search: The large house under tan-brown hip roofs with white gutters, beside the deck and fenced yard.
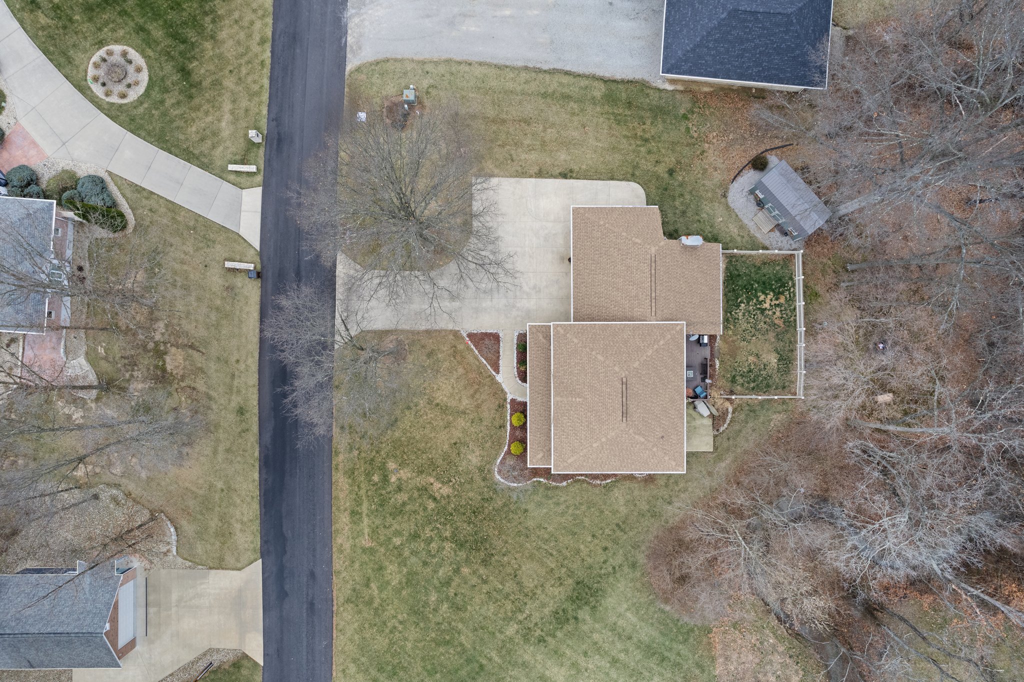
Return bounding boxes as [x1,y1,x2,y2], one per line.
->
[527,205,722,474]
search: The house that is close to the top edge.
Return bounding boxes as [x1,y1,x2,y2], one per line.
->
[659,0,834,97]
